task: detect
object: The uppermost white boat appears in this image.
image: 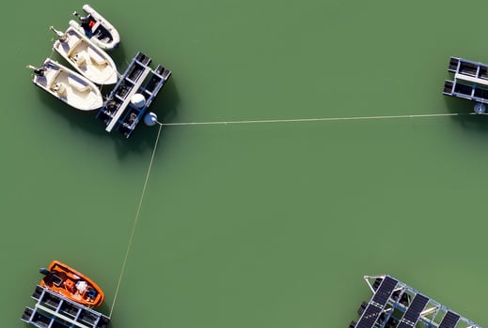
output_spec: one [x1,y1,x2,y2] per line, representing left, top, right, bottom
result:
[68,0,117,49]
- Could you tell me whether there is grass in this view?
No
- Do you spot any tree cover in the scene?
No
